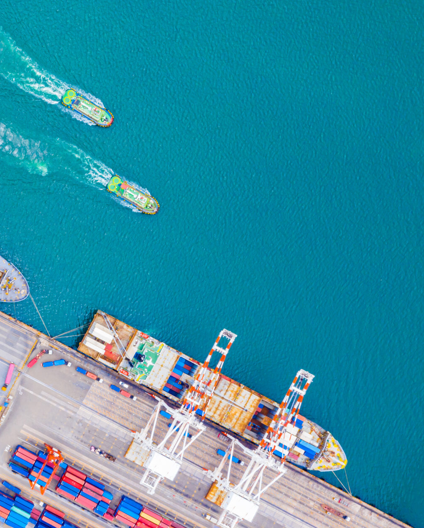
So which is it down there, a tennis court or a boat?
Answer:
boat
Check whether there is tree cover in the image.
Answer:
No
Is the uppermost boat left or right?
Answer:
left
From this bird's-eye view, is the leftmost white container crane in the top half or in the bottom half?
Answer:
bottom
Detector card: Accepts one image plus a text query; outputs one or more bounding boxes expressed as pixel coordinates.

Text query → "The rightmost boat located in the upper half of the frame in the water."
[105,177,160,215]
